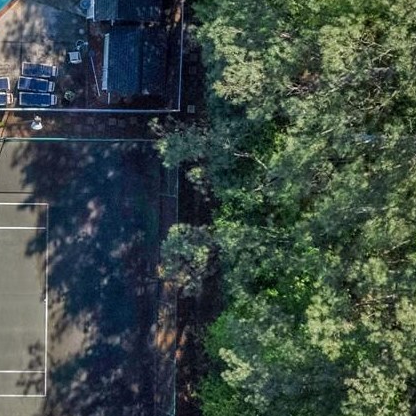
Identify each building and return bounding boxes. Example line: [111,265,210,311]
[86,0,158,26]
[102,31,165,101]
